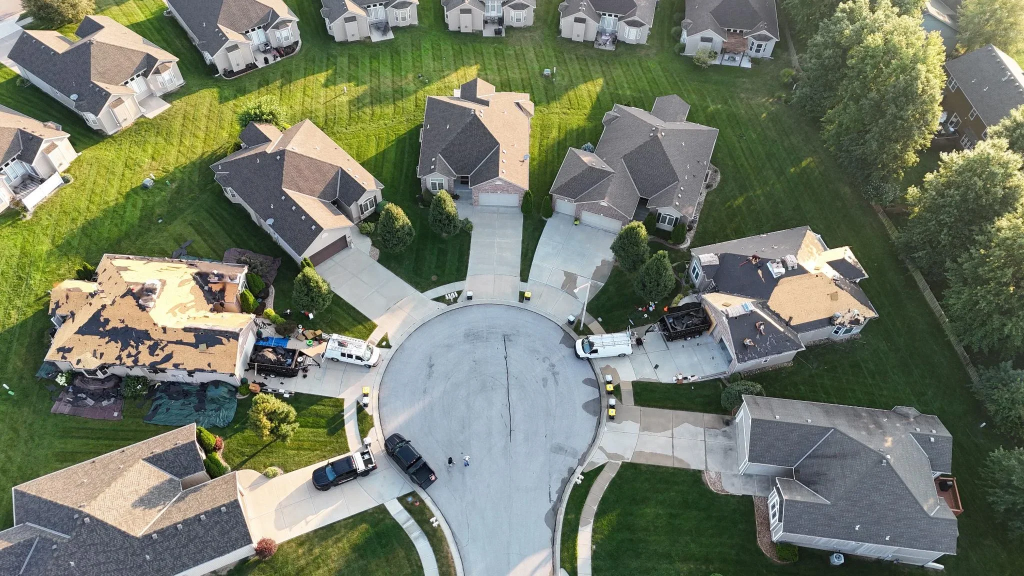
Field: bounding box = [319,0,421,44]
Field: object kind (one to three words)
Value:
house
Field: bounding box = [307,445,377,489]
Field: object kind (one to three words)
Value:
truck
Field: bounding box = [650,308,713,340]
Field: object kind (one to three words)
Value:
trailer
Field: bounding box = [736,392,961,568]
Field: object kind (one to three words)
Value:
house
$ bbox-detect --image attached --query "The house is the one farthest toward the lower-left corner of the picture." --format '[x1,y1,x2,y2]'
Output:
[0,422,255,576]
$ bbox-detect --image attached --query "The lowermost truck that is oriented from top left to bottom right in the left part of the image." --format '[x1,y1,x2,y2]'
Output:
[383,429,436,494]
